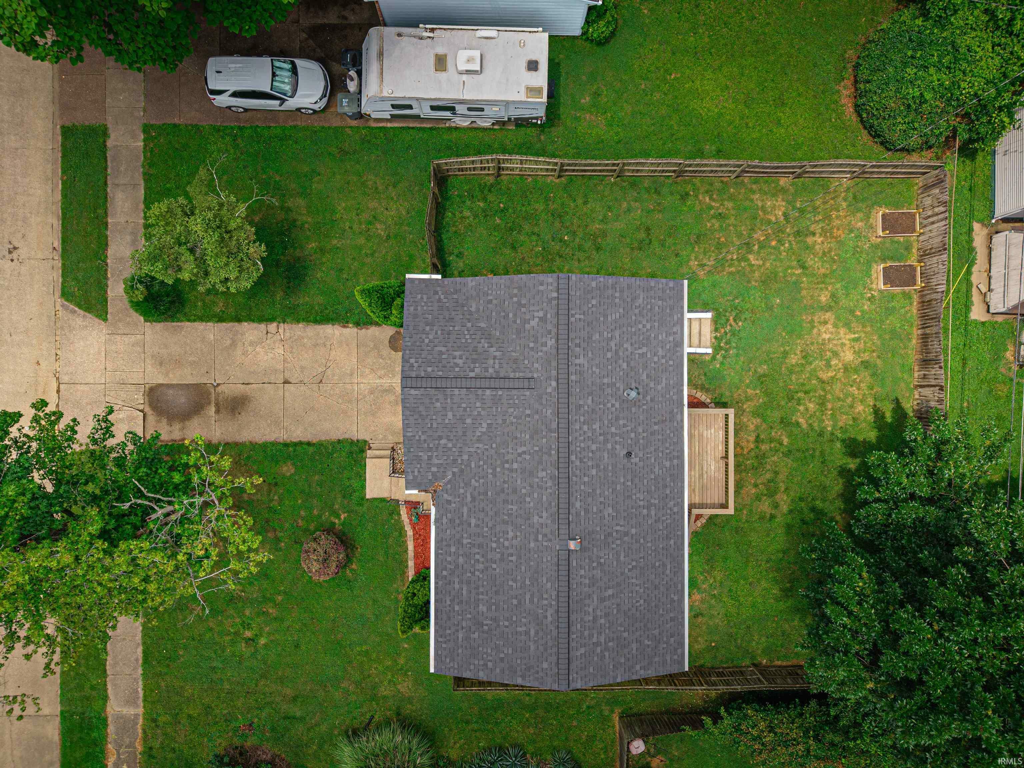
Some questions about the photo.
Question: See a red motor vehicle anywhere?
No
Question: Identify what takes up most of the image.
grass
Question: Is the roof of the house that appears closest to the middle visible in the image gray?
Yes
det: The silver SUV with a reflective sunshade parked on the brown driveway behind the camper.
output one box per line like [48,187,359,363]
[205,49,332,117]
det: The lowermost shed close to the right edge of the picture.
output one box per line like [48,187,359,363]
[977,232,1024,312]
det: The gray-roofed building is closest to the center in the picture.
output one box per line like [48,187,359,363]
[401,274,688,689]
